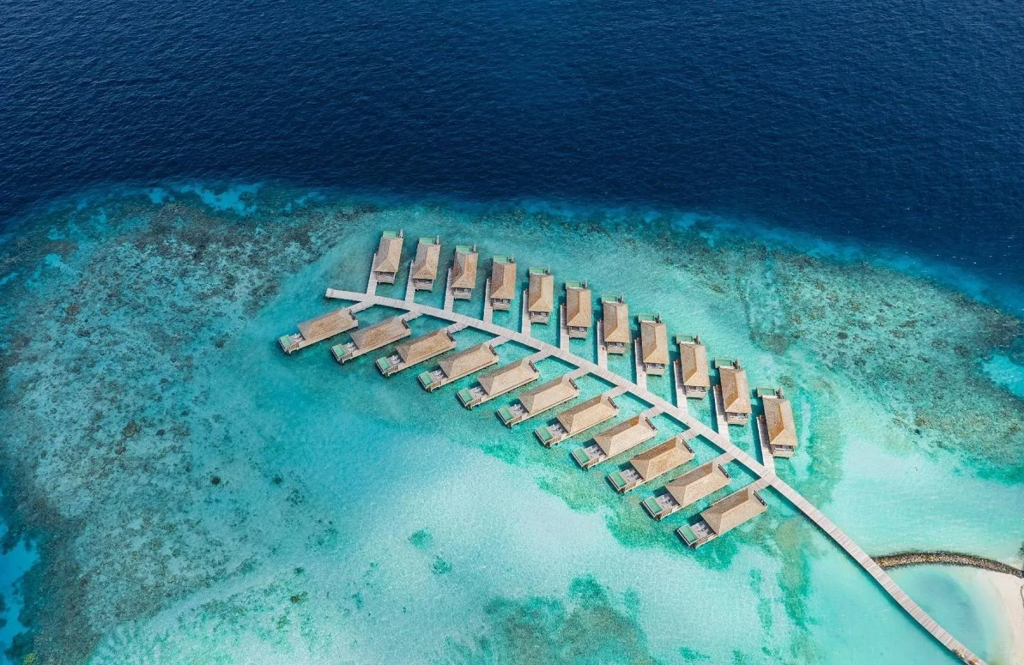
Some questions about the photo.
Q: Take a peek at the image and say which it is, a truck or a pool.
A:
pool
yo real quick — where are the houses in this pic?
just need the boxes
[451,247,478,307]
[677,335,709,402]
[542,393,618,452]
[491,259,516,317]
[602,297,628,359]
[567,282,591,344]
[651,461,730,526]
[283,307,358,364]
[638,316,668,380]
[374,233,405,291]
[412,240,441,298]
[616,435,694,498]
[715,359,751,429]
[463,358,537,414]
[757,388,797,460]
[686,487,767,553]
[579,414,656,475]
[337,315,411,372]
[382,327,458,385]
[425,342,500,398]
[504,374,580,432]
[528,271,553,329]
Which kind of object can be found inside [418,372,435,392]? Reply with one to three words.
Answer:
swimming pool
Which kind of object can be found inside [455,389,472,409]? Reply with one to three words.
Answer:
swimming pool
